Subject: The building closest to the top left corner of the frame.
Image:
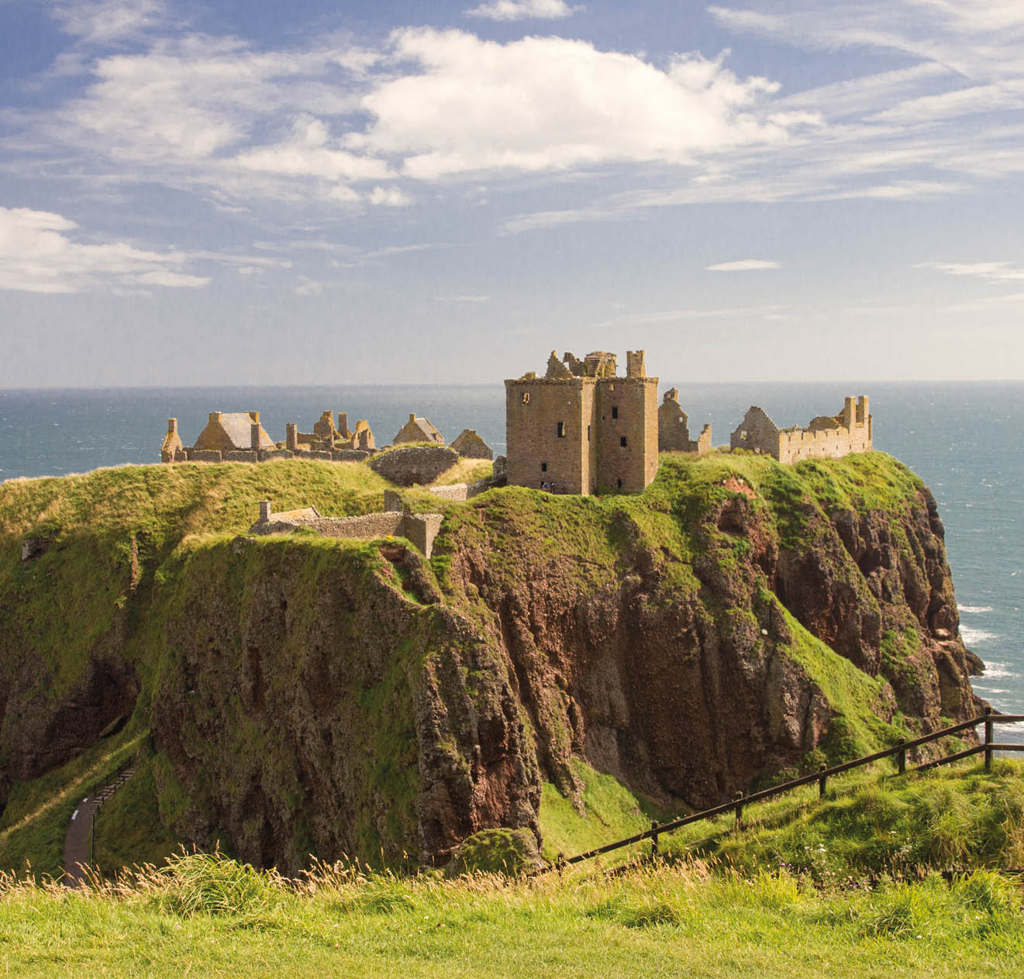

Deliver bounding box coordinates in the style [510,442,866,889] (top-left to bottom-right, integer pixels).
[191,408,283,465]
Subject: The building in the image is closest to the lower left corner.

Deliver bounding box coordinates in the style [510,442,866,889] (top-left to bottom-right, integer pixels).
[249,500,324,540]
